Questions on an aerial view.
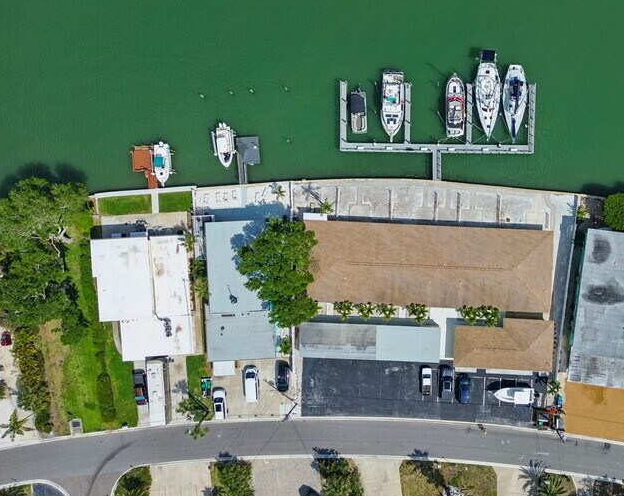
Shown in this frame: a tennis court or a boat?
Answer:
boat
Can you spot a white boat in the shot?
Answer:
Yes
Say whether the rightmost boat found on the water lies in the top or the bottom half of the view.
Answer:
top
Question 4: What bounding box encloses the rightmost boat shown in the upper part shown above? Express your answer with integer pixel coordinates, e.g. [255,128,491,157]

[503,65,531,143]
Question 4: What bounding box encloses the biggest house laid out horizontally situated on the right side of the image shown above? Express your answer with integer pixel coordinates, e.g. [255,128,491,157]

[303,221,553,313]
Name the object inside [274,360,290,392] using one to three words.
car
